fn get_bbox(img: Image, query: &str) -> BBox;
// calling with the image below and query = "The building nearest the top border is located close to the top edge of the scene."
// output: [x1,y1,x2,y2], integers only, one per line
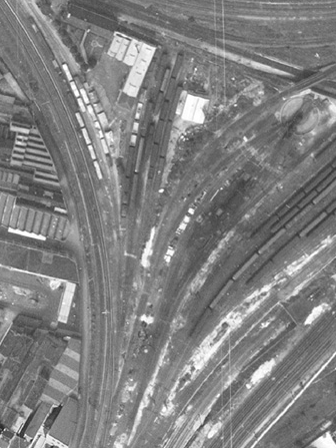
[66,1,121,34]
